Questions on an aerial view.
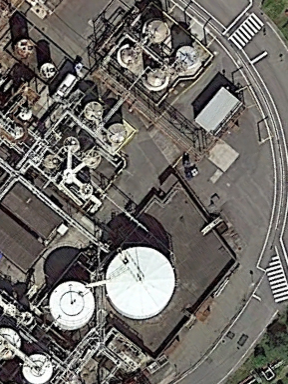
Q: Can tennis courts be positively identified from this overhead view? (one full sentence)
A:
No, the scene contains no tennis court.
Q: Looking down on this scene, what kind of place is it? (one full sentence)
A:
The picture captures an industrial area.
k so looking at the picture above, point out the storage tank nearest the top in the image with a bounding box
[142,16,171,47]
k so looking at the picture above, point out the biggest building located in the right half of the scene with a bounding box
[195,87,241,134]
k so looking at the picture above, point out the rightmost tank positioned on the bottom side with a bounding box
[106,247,176,322]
